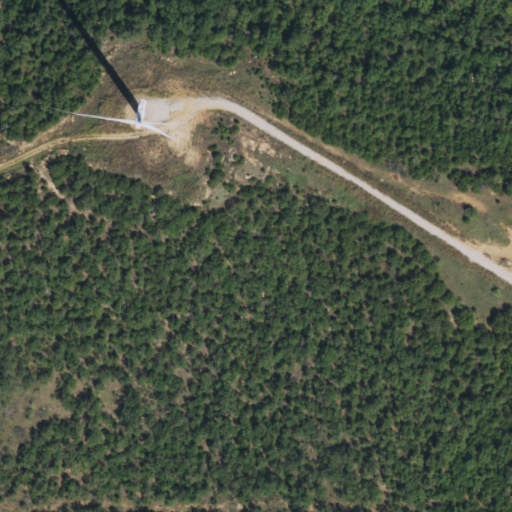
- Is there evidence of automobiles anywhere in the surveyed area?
No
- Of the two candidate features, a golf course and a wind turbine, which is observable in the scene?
wind turbine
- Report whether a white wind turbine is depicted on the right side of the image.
No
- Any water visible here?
No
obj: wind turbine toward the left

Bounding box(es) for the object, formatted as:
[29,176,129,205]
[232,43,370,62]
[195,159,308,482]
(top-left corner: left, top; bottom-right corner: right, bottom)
[54,98,183,140]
